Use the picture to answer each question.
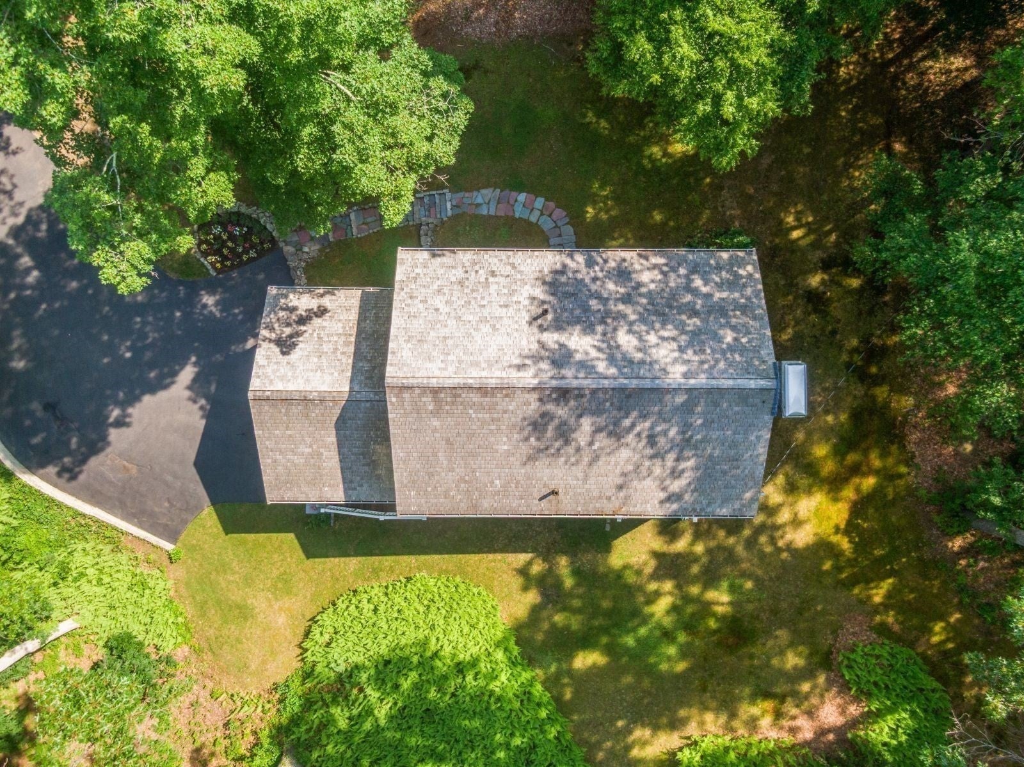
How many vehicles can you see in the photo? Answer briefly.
zero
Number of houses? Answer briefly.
1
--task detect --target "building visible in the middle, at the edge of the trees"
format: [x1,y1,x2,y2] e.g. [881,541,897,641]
[247,247,807,520]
